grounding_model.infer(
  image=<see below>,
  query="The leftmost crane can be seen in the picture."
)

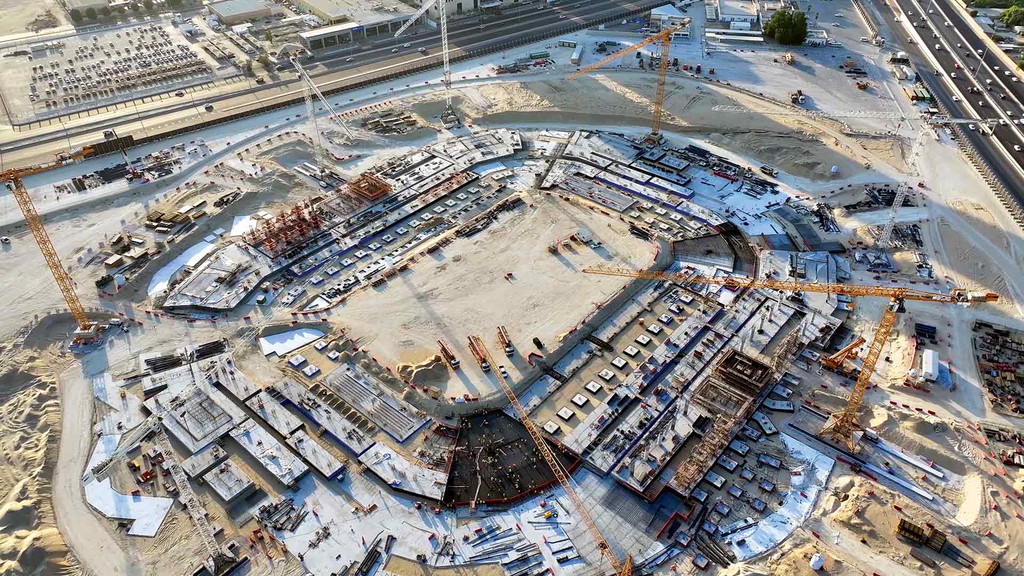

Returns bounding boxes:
[0,161,101,349]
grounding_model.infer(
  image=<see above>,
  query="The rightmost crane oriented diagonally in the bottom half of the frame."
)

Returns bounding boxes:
[469,335,636,576]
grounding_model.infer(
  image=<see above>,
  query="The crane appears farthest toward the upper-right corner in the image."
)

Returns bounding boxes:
[713,107,1002,272]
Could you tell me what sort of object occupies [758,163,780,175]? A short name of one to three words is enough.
vehicle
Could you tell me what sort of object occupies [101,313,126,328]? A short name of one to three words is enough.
vehicle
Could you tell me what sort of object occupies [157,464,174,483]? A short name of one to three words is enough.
work vehicle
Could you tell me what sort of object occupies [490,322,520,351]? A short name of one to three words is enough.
truck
